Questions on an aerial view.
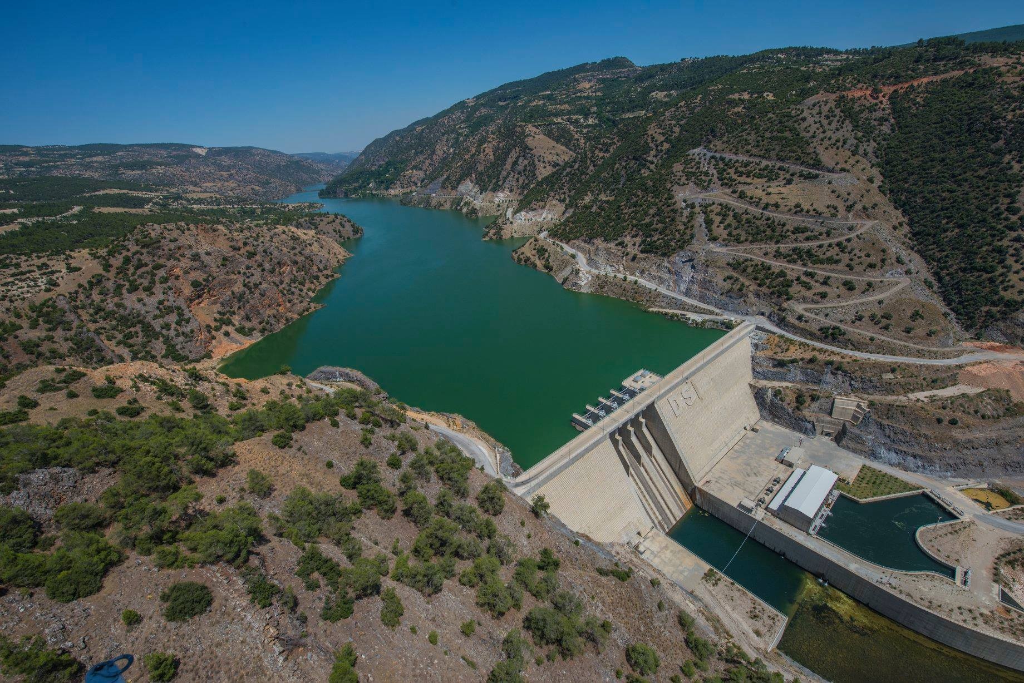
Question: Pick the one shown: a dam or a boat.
dam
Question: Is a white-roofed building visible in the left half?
No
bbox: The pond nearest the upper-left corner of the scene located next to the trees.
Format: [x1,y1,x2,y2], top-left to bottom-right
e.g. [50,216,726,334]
[218,182,727,470]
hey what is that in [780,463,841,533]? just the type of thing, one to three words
building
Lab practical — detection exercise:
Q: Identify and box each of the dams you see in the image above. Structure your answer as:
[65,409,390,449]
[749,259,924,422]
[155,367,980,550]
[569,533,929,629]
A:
[503,319,760,551]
